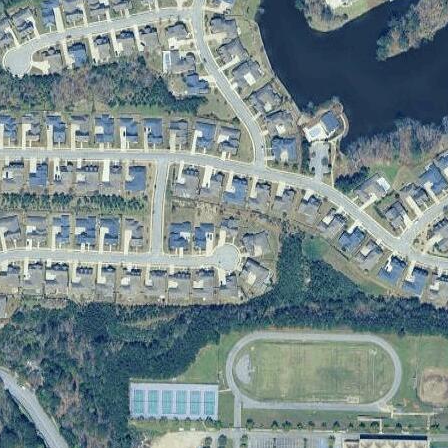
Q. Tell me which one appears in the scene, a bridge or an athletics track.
athletics track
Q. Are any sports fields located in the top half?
No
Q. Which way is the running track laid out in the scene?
from left to right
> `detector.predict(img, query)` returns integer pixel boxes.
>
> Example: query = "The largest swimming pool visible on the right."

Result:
[305,124,326,142]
